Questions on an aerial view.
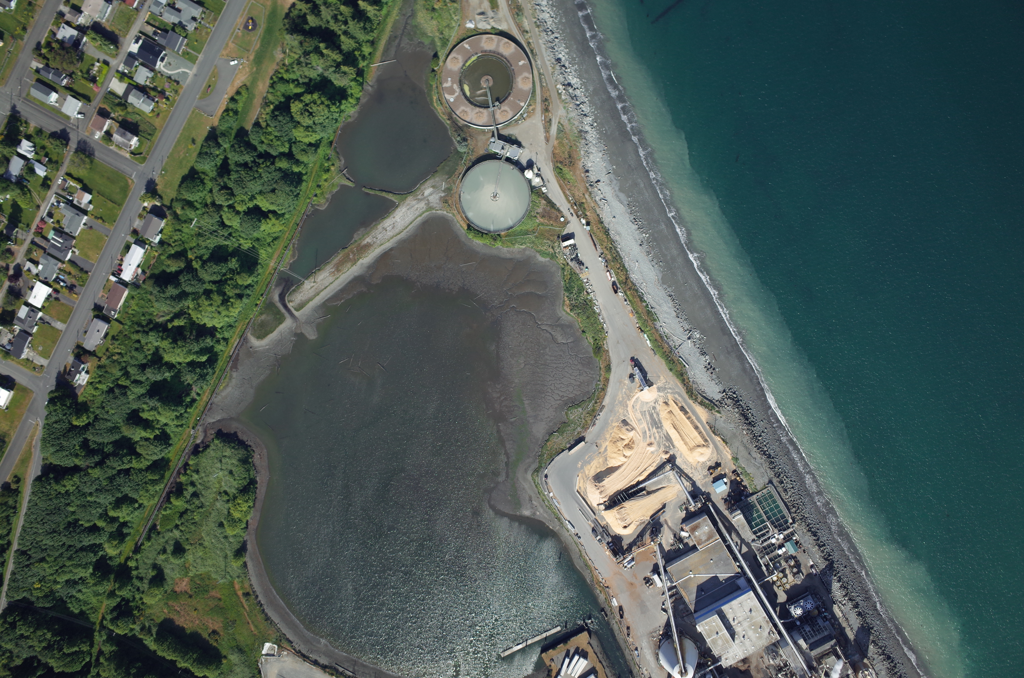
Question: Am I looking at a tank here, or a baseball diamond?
tank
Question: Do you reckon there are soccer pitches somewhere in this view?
No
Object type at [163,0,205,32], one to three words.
house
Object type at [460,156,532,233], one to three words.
storage tank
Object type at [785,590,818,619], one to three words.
cooling tower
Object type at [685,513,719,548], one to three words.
building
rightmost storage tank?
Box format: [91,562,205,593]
[842,647,873,678]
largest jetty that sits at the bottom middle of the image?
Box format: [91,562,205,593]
[501,626,561,658]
